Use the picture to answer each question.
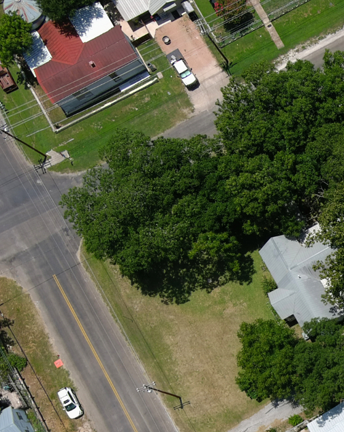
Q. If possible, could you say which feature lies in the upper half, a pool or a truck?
truck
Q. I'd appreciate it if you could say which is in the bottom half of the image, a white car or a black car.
white car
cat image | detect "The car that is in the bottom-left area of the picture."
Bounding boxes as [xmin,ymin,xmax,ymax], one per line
[58,386,83,419]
